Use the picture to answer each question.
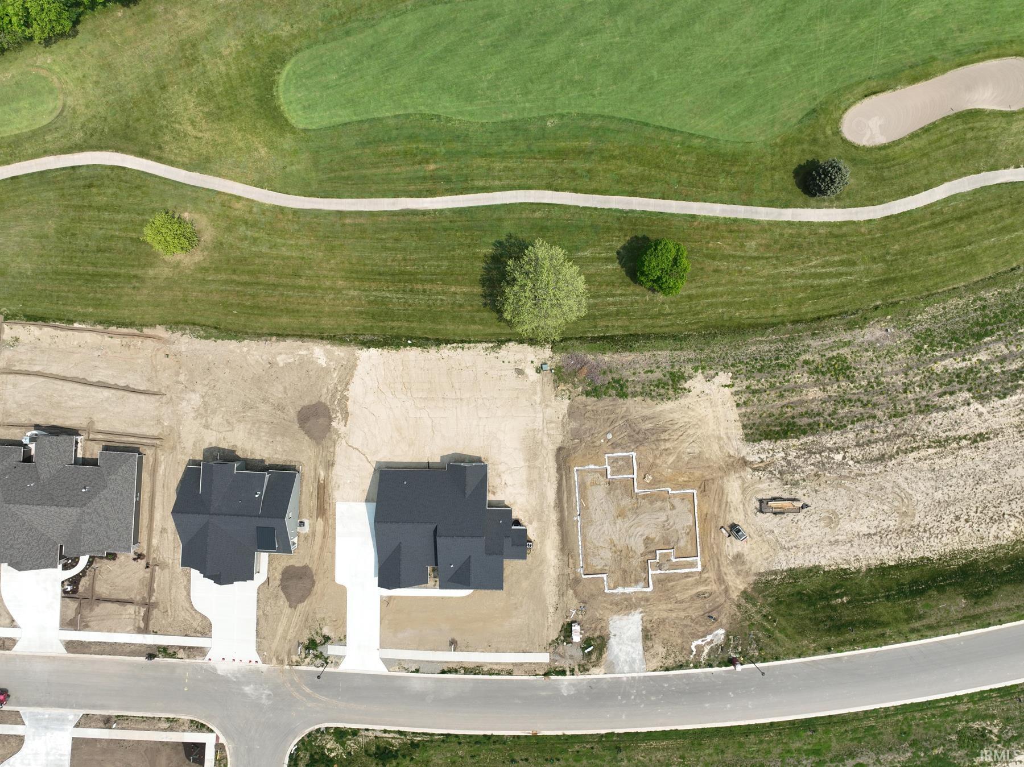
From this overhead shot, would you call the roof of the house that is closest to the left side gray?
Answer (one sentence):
Yes, the roof of the house that is closest to the left side is gray.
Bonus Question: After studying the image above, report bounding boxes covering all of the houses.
[171,461,300,586]
[375,464,527,590]
[0,435,141,573]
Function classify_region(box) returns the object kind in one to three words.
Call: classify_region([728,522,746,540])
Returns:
work vehicle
